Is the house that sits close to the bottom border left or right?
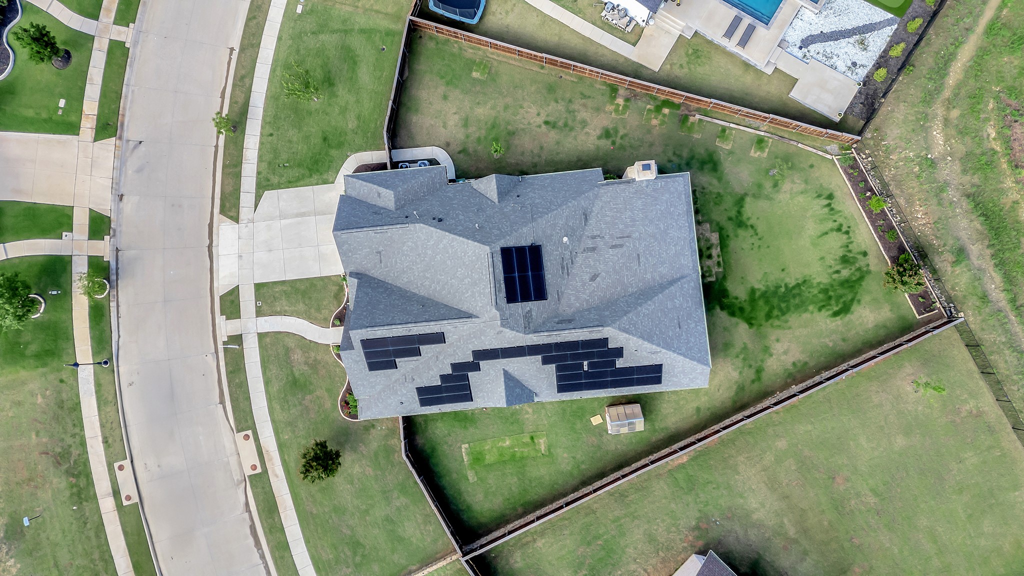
right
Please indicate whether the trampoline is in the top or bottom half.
top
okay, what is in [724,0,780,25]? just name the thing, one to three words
swimming pool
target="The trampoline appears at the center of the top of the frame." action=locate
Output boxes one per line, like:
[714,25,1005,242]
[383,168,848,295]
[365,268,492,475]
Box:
[428,0,486,24]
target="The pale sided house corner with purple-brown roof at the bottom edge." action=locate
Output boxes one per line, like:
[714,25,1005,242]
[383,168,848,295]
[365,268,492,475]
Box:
[663,543,738,576]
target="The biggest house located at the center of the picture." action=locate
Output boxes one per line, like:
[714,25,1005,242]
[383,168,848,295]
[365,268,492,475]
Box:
[333,160,712,421]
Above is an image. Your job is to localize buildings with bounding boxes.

[333,160,712,421]
[663,543,738,576]
[605,401,644,434]
[610,0,666,24]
